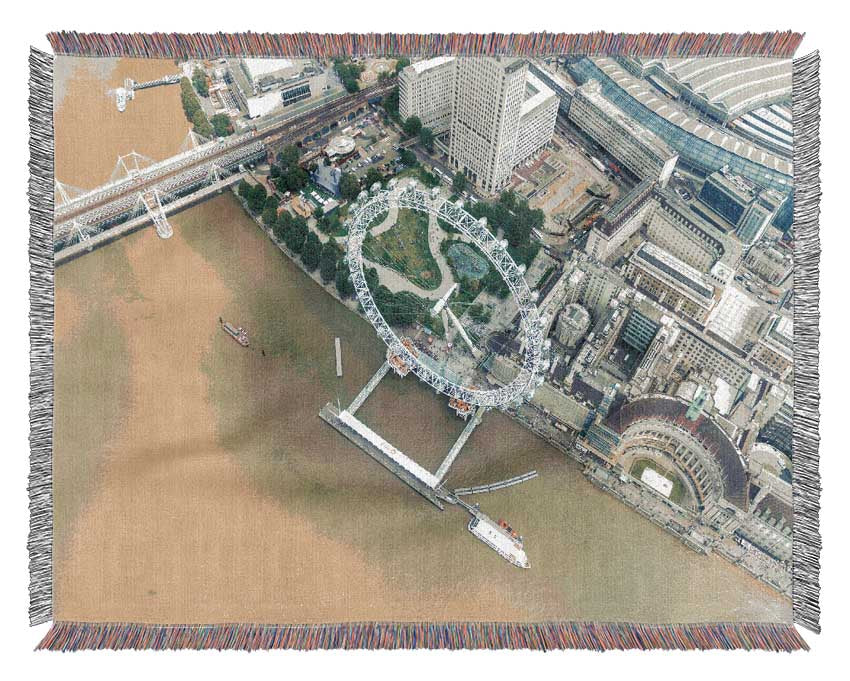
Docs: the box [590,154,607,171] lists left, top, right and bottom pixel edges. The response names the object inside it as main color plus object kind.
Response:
white vehicle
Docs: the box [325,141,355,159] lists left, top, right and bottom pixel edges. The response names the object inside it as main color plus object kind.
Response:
white tent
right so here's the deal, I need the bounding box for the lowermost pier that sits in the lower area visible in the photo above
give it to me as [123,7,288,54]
[437,485,480,517]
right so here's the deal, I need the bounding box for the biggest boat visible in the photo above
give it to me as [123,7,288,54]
[467,512,530,568]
